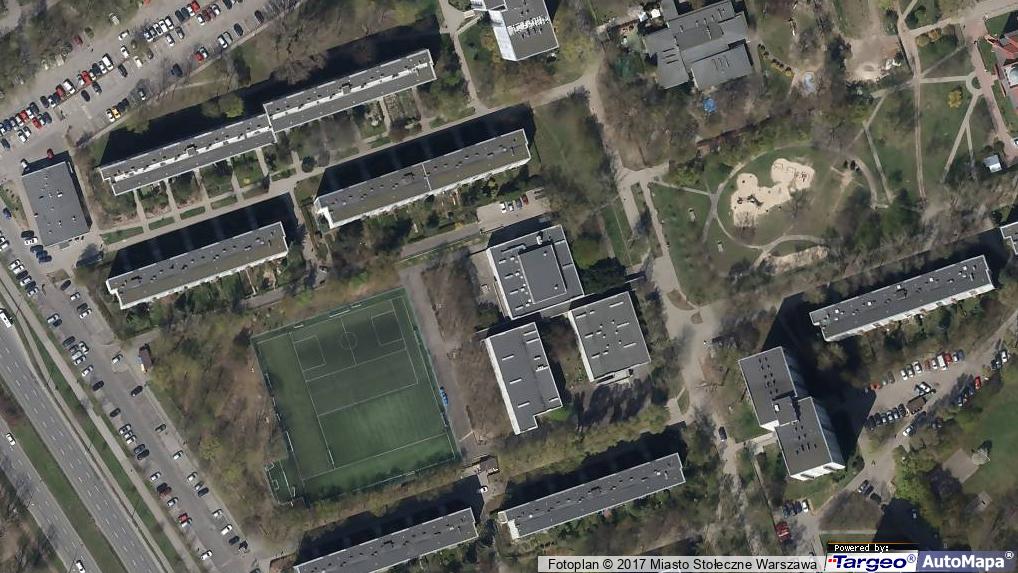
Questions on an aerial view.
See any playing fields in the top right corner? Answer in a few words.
No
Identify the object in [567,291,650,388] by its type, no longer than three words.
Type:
building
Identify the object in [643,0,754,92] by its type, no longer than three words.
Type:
building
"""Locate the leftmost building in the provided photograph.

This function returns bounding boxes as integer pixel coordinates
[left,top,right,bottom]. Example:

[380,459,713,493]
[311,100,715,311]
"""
[23,162,90,248]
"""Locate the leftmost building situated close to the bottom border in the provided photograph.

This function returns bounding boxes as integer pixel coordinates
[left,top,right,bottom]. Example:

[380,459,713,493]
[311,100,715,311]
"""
[294,508,478,573]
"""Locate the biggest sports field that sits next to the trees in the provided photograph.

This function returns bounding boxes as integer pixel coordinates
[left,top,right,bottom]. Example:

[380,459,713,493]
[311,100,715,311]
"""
[251,287,461,506]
